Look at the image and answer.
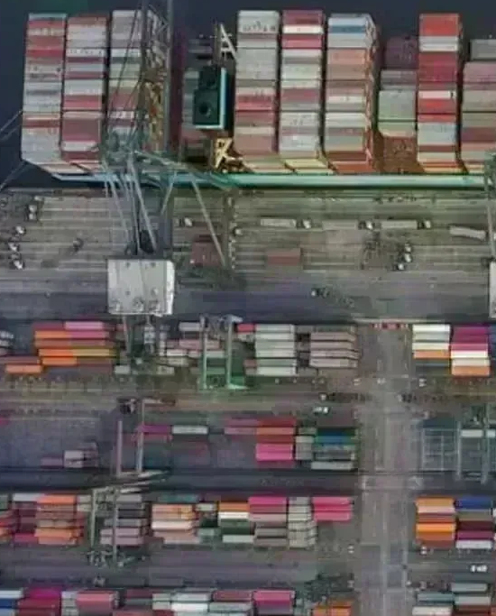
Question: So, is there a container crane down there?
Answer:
Yes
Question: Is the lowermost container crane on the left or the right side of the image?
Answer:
left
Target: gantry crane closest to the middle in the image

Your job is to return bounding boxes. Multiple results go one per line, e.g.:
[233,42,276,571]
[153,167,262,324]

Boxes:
[188,312,250,391]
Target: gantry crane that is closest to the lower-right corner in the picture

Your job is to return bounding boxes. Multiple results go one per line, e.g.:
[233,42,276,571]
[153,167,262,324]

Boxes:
[455,399,496,484]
